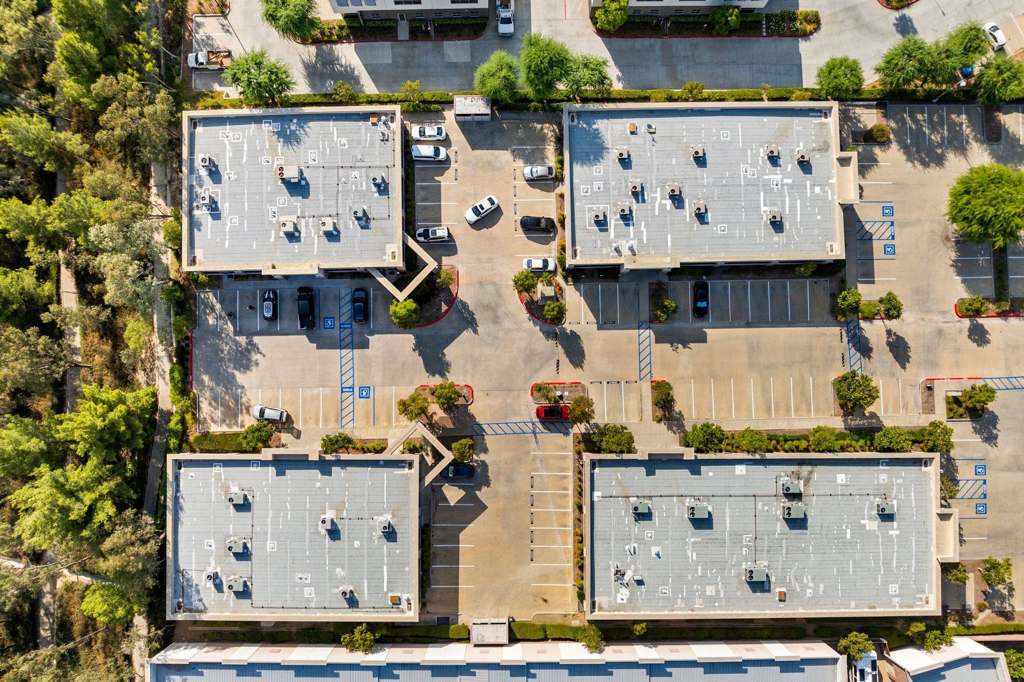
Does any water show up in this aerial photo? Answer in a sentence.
No, no water is visible.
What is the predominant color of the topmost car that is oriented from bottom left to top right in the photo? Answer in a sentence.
From above, the topmost car that is oriented from bottom left to top right appears white.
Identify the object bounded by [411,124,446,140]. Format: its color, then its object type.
white car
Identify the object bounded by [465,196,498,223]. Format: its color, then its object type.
white car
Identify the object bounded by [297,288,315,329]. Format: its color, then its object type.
black vehicle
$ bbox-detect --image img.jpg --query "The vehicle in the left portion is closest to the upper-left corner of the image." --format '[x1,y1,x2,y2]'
[187,47,232,68]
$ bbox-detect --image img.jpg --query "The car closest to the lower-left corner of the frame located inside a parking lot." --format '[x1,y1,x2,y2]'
[253,404,287,422]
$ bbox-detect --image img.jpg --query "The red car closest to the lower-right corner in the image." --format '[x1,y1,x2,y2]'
[537,404,568,421]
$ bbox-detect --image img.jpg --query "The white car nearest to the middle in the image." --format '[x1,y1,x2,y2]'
[523,257,557,272]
